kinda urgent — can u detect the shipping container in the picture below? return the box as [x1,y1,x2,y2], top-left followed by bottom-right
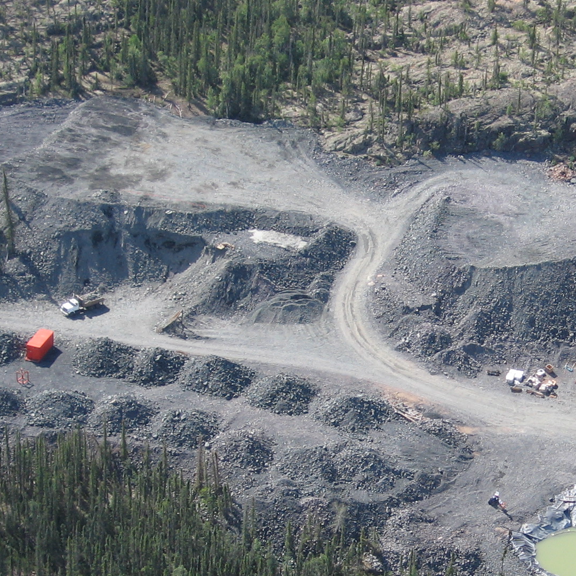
[25,328,52,363]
